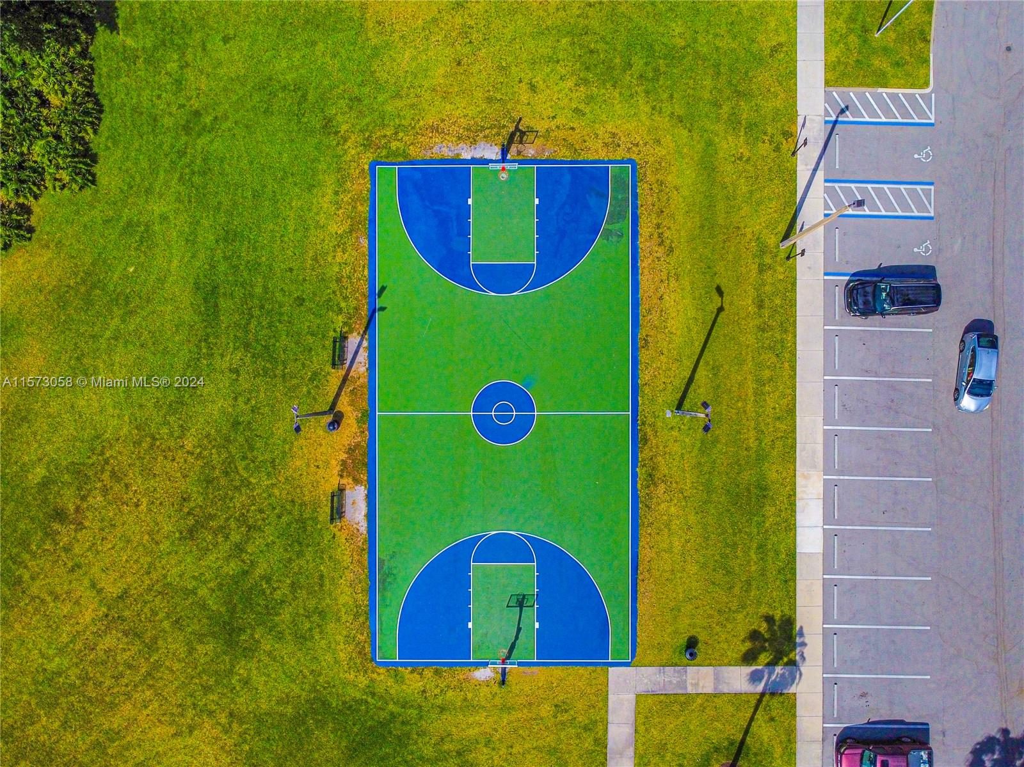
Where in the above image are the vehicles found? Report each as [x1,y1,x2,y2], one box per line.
[843,278,939,319]
[955,332,999,412]
[833,738,933,767]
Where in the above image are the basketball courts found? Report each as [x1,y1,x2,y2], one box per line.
[367,157,640,667]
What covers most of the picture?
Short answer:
grass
